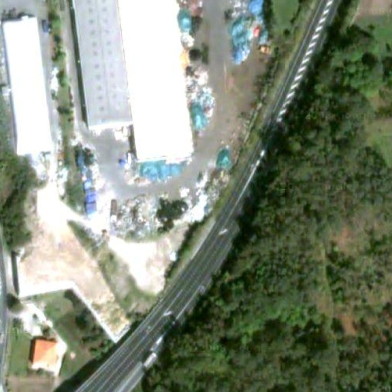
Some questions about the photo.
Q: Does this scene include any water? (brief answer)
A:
No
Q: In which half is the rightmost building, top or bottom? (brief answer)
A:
top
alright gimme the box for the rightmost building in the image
[119,0,194,162]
